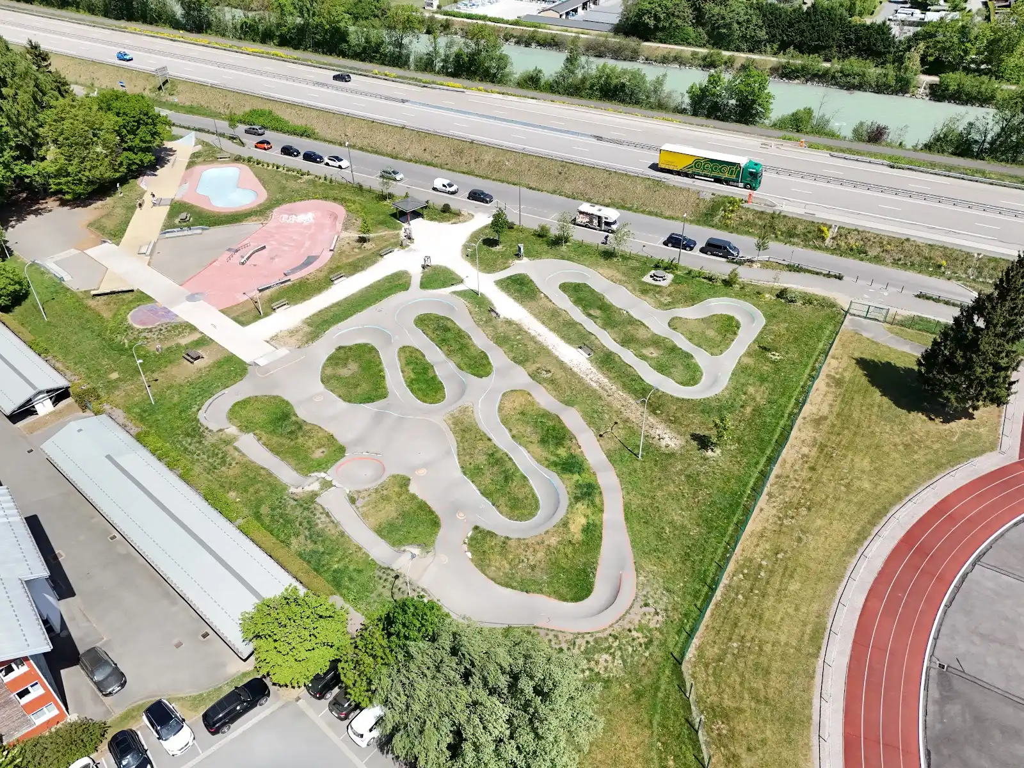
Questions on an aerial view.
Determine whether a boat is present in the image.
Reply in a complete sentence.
No, I can see no boat in this picture.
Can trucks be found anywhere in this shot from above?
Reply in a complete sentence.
Yes, the picture does show a truck.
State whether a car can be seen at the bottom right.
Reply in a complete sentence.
No, the scene shows no car at the bottom right.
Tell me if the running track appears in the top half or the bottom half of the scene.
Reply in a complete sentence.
You can find the running track in the bottom half.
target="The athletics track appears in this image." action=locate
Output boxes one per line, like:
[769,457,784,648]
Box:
[842,414,1024,768]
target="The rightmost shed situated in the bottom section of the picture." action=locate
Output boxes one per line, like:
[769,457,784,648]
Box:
[38,414,305,670]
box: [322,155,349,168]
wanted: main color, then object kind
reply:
white vehicle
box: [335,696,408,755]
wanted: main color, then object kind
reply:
white car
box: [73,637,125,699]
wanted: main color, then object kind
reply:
gray car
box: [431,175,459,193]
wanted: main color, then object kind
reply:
white vehicle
